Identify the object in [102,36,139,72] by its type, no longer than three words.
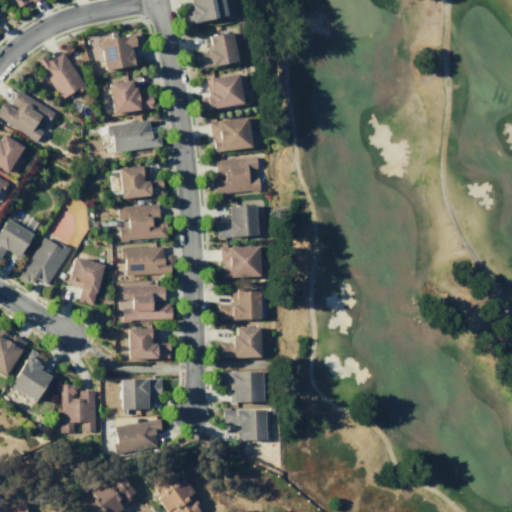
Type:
house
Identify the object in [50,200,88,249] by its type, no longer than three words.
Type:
sports court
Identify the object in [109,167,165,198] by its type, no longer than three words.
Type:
house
